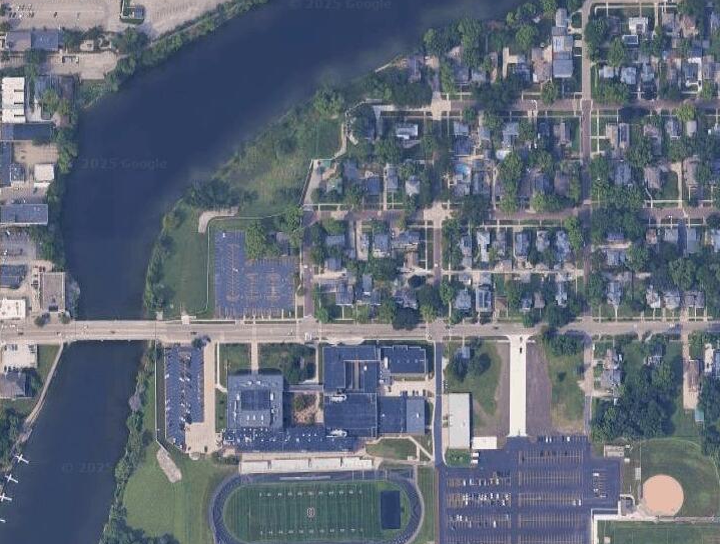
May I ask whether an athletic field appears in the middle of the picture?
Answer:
No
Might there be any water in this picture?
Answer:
Yes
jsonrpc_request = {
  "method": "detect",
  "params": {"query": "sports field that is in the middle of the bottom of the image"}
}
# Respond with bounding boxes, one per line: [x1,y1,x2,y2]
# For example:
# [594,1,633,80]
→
[225,481,412,543]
